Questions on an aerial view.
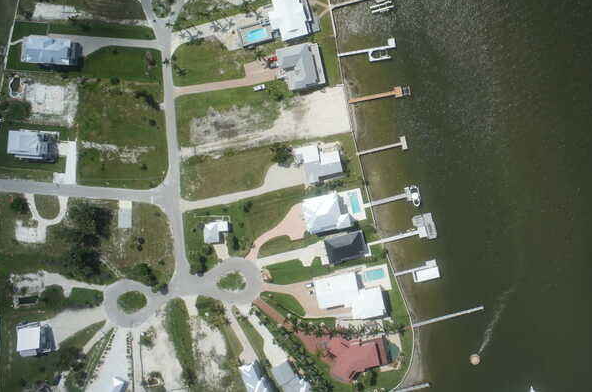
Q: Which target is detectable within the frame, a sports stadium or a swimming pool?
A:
swimming pool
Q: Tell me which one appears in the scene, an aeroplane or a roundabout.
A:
roundabout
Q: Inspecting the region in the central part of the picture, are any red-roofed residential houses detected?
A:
No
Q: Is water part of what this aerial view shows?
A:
Yes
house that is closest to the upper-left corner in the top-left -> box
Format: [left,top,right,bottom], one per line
[19,35,85,66]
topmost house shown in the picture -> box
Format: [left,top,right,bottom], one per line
[268,0,320,41]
